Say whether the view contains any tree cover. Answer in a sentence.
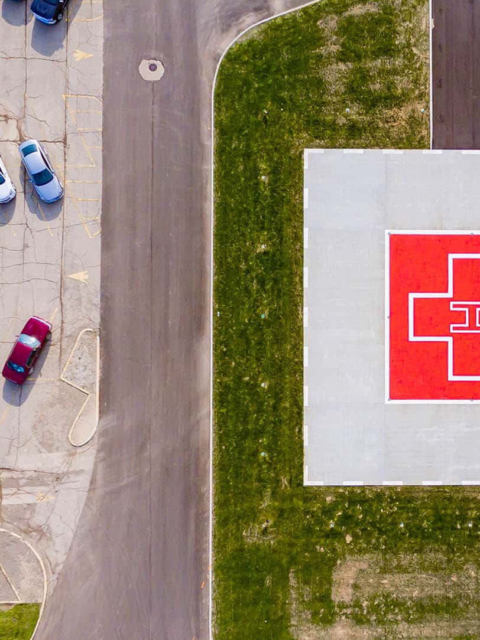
No, tree cover can't be seen anywhere here.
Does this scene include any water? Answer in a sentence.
No, there is no water in the image.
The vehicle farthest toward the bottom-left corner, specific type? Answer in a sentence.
Specifically, the vehicle farthest toward the bottom-left corner is a car.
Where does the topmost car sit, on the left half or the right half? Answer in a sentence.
You can find the topmost car on the left side of the picture.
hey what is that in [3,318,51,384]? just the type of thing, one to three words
car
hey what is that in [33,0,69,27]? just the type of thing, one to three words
car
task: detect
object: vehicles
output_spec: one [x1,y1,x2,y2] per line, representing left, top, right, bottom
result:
[33,0,69,27]
[0,151,16,203]
[22,140,63,203]
[3,318,51,384]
